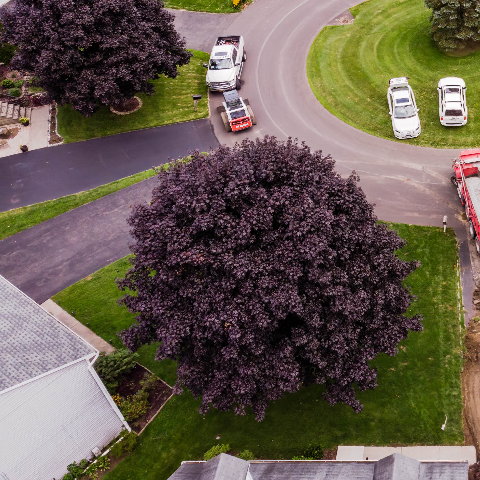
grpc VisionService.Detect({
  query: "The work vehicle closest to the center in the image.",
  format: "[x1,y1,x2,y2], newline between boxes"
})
[213,89,257,137]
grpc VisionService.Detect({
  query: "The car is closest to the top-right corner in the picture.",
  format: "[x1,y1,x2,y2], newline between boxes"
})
[437,78,468,124]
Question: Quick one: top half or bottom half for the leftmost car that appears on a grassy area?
top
